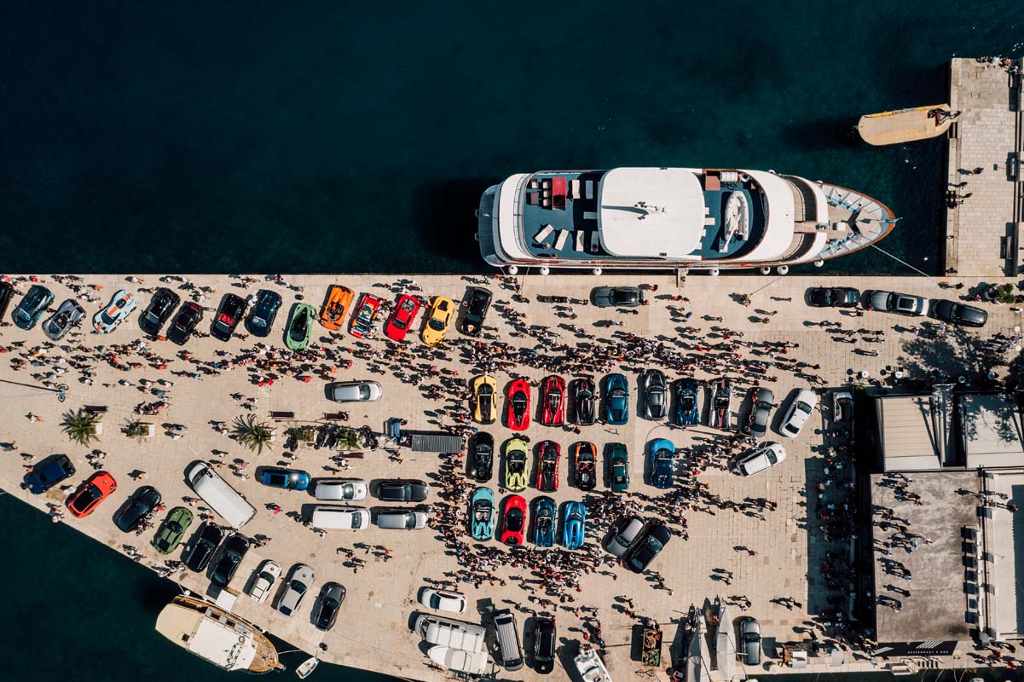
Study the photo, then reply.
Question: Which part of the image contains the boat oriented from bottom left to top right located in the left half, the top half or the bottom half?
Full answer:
The boat oriented from bottom left to top right located in the left half is in the bottom half of the image.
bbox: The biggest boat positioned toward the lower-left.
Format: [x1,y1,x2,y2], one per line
[152,592,291,680]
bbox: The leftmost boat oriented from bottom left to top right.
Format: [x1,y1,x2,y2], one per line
[295,657,316,680]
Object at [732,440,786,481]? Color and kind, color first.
white car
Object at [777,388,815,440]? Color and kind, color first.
white car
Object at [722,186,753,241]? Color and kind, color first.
white boat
